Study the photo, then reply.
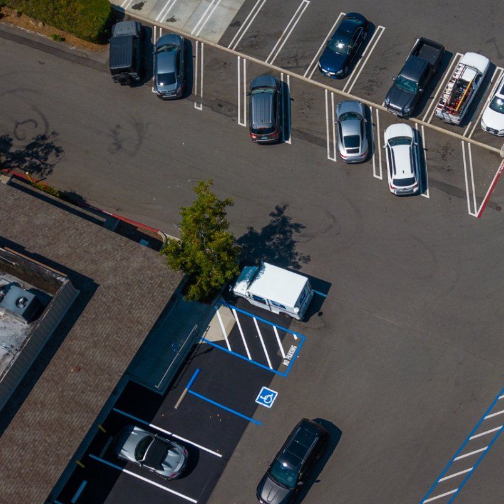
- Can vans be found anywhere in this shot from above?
Yes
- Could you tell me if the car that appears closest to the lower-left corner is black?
Yes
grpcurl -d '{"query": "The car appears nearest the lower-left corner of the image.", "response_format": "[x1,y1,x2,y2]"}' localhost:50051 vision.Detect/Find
[113,425,193,481]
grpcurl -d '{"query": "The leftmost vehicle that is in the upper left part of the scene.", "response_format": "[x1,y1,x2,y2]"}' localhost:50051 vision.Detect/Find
[107,21,145,87]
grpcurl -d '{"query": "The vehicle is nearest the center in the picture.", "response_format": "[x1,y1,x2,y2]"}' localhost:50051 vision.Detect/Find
[230,262,314,321]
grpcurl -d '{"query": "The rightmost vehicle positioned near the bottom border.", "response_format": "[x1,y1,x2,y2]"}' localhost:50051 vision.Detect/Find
[261,417,327,504]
